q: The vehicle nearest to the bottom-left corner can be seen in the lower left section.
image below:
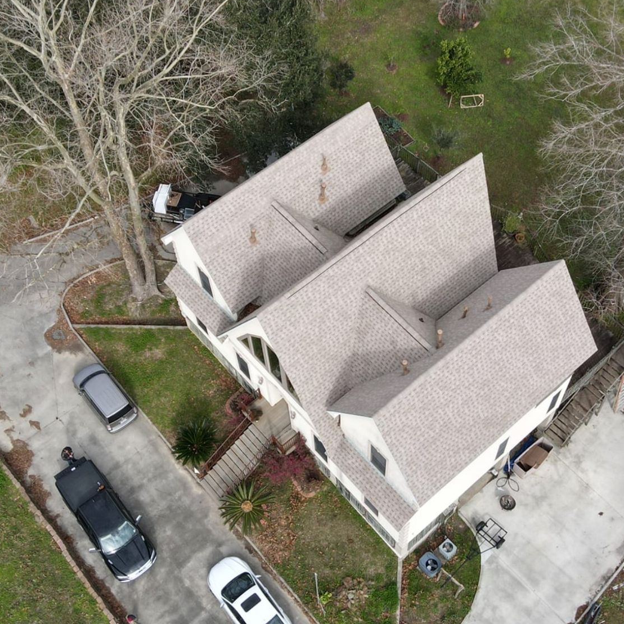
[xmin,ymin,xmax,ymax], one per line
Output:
[53,452,156,581]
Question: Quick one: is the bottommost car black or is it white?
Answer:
white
